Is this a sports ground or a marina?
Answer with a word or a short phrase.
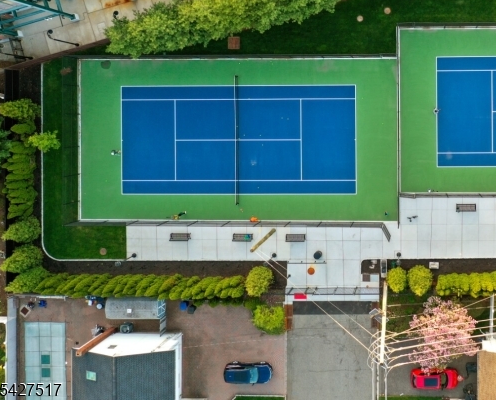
sports ground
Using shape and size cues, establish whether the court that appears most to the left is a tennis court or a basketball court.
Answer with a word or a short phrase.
tennis court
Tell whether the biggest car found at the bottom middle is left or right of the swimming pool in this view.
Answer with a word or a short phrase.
right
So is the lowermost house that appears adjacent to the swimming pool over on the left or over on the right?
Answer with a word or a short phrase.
left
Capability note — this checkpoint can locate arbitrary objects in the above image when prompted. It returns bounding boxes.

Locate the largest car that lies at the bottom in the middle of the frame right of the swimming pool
[222,362,272,388]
